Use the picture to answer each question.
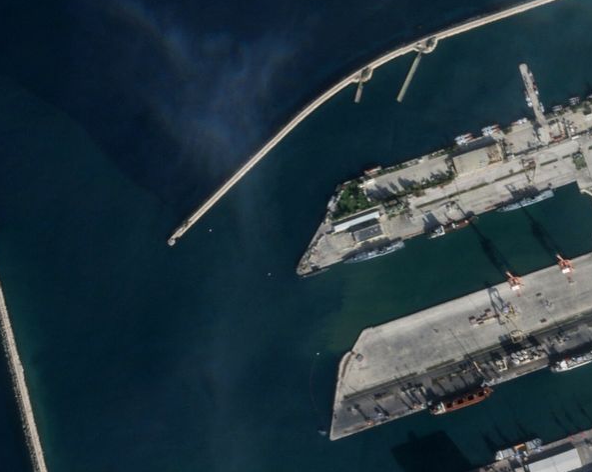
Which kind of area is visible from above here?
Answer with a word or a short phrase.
port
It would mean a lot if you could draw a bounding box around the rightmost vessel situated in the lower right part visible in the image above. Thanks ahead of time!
[550,350,592,371]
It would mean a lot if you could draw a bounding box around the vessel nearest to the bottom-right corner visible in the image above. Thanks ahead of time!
[496,440,542,459]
